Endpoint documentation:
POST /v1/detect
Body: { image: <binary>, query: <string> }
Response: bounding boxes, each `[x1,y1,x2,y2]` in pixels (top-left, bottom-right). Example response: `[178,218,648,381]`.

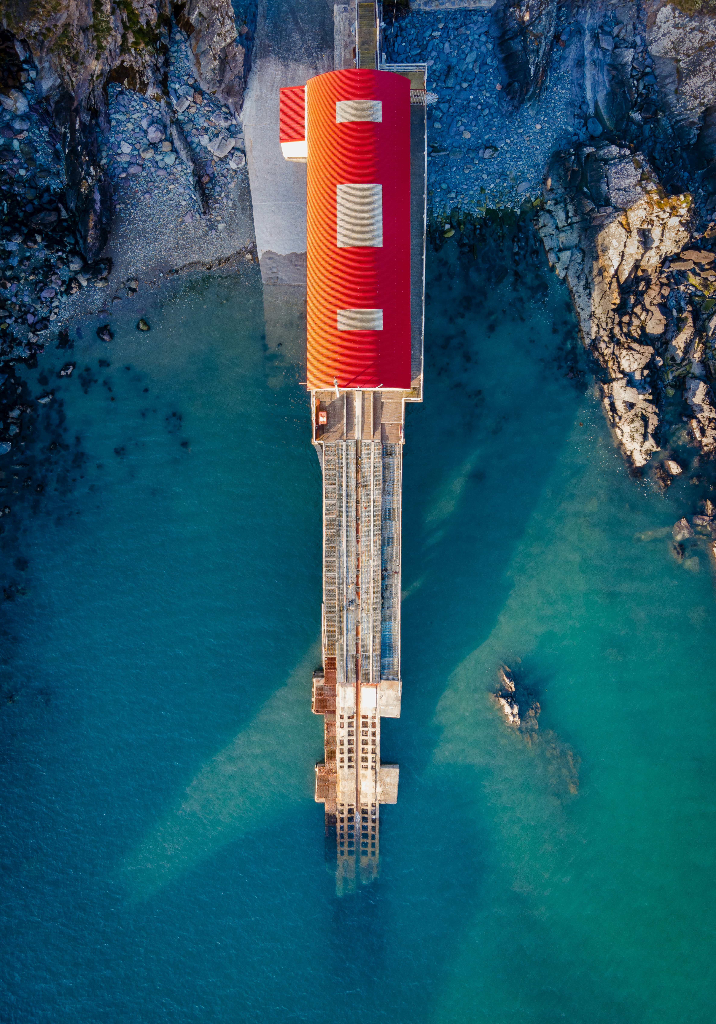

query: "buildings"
[279,69,410,392]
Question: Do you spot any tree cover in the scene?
No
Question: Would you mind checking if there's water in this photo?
Yes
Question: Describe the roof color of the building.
red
